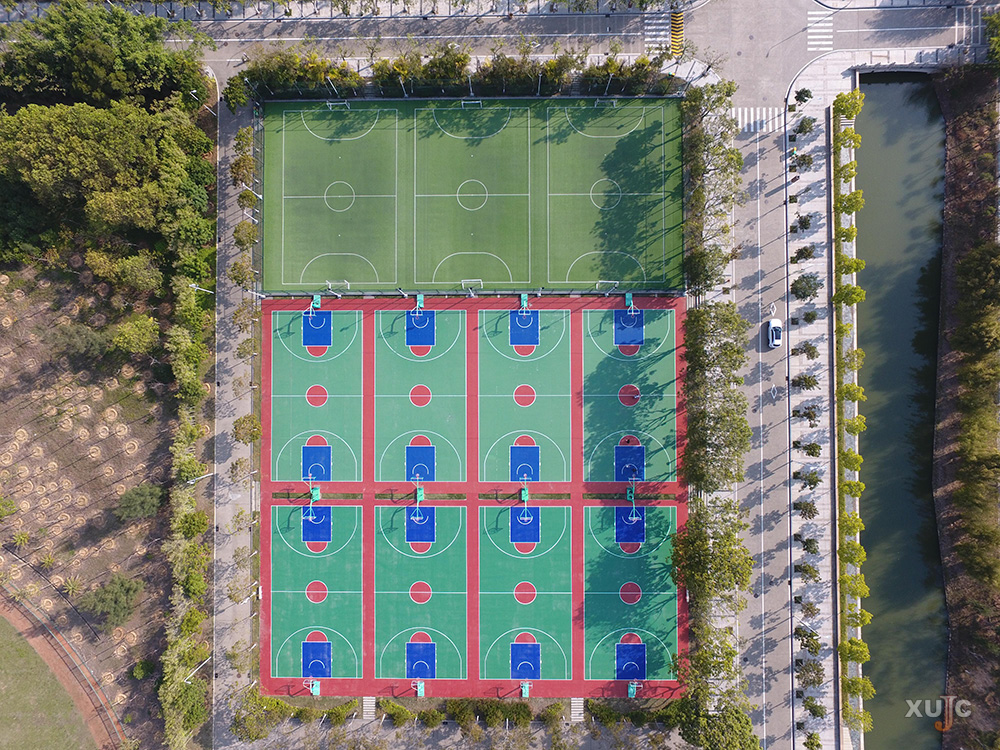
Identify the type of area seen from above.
sports ground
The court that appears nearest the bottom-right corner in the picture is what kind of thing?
basketball court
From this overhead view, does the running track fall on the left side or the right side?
left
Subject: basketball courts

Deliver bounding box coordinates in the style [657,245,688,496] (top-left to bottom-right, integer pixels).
[369,296,473,494]
[473,494,578,694]
[368,494,474,693]
[473,295,577,494]
[577,494,689,694]
[576,295,688,494]
[260,296,369,494]
[260,494,369,693]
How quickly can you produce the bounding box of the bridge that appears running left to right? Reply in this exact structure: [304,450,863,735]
[851,60,970,72]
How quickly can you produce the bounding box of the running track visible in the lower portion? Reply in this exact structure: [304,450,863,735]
[0,589,121,750]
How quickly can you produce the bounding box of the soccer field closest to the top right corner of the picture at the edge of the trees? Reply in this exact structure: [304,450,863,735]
[539,97,685,290]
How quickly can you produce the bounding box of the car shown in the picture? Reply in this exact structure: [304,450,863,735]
[769,318,784,348]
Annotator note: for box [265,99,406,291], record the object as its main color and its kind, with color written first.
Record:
green soccer field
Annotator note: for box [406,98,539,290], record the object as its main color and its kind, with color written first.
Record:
green soccer field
